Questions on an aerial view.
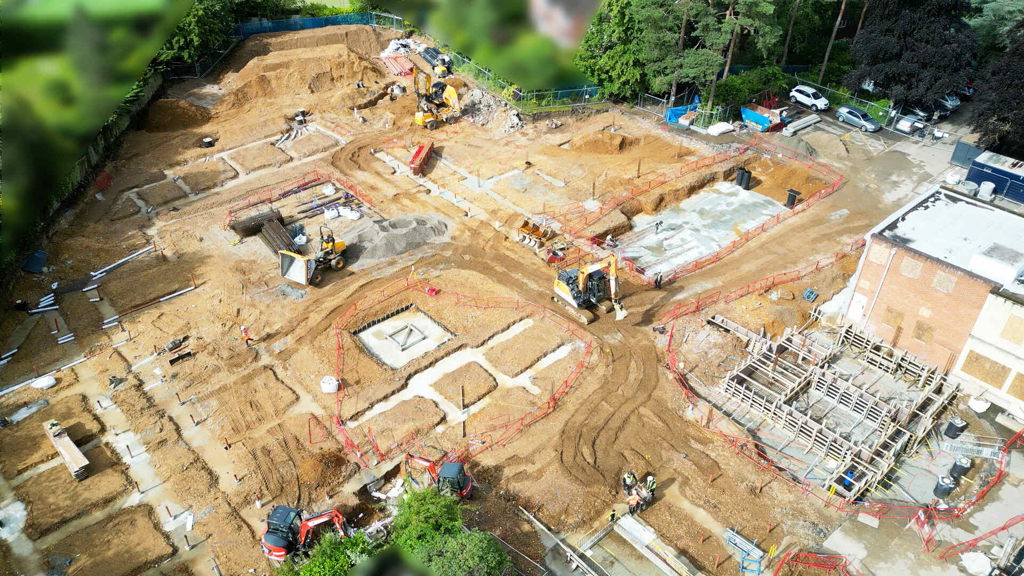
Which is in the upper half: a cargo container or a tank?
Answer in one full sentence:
The one visible in the upper half is a cargo container.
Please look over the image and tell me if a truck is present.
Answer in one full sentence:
Yes, I can see a truck in this picture.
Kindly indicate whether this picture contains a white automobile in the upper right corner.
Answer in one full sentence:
Yes, in the upper right corner there is a white automobile.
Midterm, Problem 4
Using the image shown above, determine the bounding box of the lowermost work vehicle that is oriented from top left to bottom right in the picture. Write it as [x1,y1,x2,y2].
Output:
[410,434,484,509]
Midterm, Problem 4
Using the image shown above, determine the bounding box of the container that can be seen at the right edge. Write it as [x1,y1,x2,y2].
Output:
[953,125,1018,171]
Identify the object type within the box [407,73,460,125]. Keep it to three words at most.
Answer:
work vehicle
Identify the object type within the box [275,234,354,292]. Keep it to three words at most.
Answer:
truck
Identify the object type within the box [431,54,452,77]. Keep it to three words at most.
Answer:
truck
